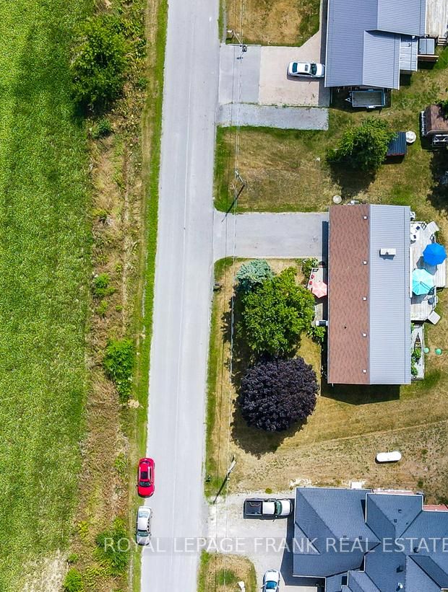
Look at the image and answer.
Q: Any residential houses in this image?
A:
Yes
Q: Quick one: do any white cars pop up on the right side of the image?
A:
Yes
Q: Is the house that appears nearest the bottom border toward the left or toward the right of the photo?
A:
right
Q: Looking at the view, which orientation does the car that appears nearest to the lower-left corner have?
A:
vertically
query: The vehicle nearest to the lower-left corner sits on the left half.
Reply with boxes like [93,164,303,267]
[133,506,153,545]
